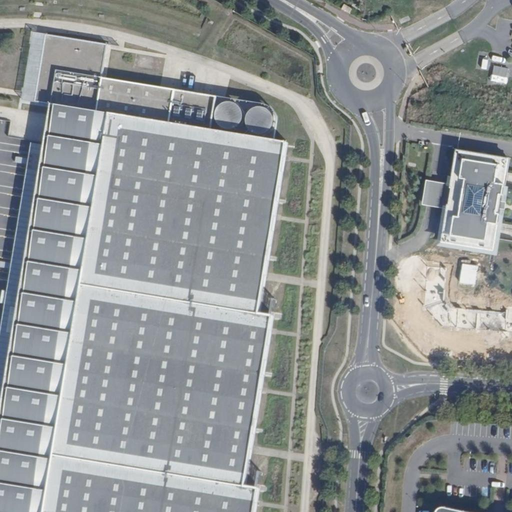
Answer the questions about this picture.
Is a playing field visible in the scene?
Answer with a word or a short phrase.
No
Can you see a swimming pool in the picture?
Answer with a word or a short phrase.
No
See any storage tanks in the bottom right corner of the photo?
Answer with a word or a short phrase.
No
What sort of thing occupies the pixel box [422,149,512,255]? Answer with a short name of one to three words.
building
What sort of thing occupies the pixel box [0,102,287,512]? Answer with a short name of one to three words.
warehouse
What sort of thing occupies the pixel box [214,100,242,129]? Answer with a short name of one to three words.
storage tank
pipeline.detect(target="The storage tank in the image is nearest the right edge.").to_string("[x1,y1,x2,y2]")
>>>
[245,104,273,132]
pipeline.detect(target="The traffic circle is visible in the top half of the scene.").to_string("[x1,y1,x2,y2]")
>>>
[350,55,385,90]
